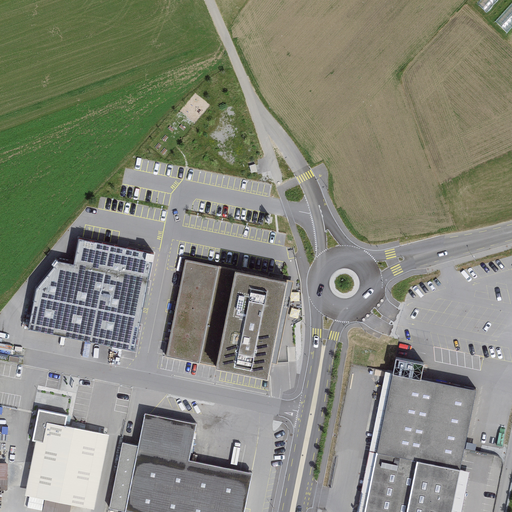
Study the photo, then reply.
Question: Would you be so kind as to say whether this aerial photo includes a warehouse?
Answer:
Yes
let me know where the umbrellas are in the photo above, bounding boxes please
[290,292,300,302]
[290,308,300,318]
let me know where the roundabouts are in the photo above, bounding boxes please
[306,246,382,322]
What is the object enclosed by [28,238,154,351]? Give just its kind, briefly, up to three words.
warehouse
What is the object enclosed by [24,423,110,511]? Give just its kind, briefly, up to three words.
building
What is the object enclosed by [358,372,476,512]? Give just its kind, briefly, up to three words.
building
